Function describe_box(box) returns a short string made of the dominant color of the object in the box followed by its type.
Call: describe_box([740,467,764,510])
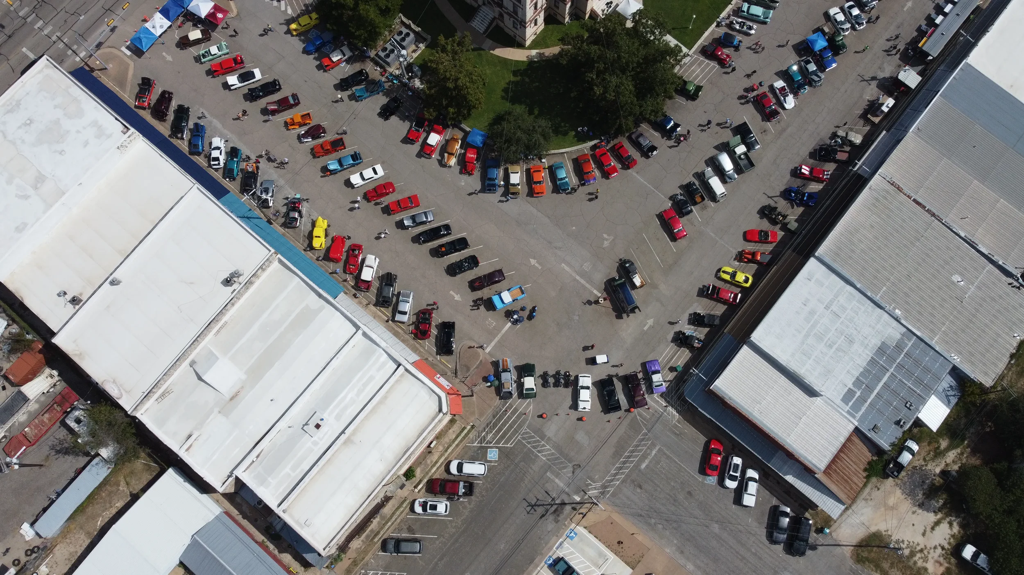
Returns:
white truck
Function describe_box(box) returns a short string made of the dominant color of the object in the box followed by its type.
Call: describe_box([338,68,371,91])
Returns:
black car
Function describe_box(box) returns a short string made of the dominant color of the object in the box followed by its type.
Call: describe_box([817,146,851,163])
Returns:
black vehicle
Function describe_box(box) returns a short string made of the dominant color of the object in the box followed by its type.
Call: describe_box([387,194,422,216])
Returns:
red car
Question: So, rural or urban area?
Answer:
urban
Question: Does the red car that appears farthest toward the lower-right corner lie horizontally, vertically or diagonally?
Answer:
vertically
